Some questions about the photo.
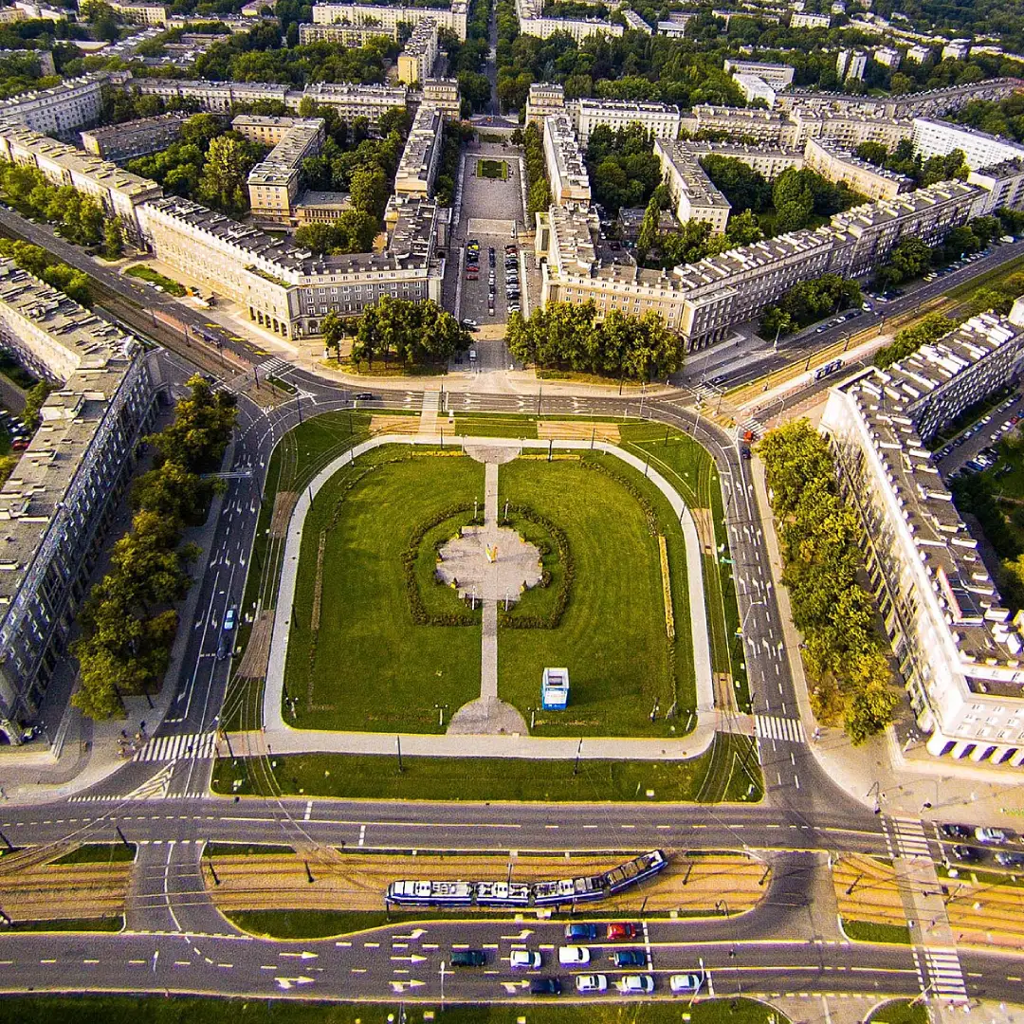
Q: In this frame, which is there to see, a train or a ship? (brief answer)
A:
train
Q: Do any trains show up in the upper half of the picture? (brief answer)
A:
No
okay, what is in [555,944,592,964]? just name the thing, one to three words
vehicle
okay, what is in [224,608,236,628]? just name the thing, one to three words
vehicle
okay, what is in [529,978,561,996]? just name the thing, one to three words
car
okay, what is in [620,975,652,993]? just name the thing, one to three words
car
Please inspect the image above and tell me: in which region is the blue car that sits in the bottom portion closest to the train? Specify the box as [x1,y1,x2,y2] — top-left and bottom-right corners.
[565,922,596,940]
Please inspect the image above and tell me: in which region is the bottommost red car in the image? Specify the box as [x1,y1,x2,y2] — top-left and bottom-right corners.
[606,921,638,939]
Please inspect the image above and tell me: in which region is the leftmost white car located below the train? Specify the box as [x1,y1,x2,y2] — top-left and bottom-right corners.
[510,950,541,969]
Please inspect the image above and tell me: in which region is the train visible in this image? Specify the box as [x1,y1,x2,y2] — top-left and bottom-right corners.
[387,851,669,908]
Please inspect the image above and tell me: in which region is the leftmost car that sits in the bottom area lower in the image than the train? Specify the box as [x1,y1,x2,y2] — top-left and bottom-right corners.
[451,949,483,968]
